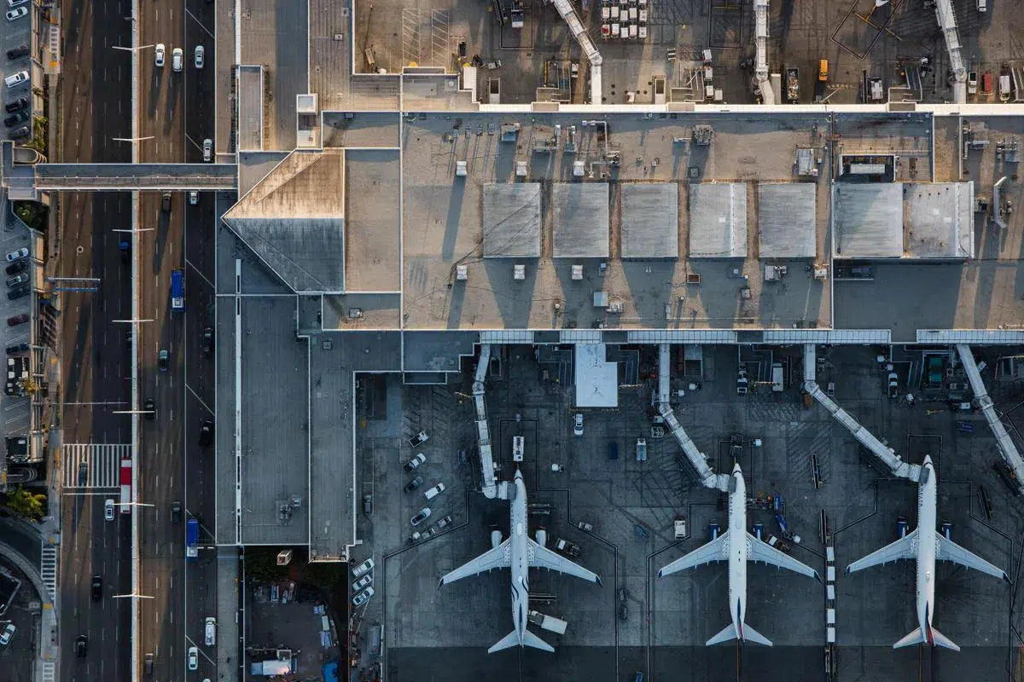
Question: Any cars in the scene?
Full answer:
Yes, a car appears in the view.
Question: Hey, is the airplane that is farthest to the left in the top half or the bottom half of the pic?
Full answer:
The bottom half of the photo is where the airplane that is farthest to the left is.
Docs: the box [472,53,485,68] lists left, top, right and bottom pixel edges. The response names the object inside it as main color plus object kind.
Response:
black vehicle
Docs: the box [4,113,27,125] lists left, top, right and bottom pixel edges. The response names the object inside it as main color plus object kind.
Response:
black vehicle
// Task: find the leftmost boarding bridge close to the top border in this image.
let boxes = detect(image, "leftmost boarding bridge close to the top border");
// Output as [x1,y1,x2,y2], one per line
[541,0,603,103]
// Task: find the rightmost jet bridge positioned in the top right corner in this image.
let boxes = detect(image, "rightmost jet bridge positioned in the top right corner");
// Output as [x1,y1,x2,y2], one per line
[926,0,968,103]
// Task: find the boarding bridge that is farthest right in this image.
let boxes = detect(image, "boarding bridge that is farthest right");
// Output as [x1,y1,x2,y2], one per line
[955,345,1024,496]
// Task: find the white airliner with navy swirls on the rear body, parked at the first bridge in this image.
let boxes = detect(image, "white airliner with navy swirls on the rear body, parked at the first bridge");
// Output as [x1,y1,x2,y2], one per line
[438,470,602,656]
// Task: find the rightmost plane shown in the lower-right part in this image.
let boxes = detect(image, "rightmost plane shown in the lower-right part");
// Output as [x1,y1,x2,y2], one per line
[848,456,1013,656]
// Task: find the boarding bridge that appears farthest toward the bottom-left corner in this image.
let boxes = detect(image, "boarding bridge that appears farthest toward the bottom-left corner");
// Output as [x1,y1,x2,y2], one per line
[473,344,516,499]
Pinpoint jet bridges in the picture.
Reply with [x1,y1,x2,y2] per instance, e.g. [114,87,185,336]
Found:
[926,0,968,103]
[801,345,927,482]
[748,0,773,103]
[955,345,1024,496]
[473,344,516,499]
[656,345,737,493]
[541,0,603,103]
